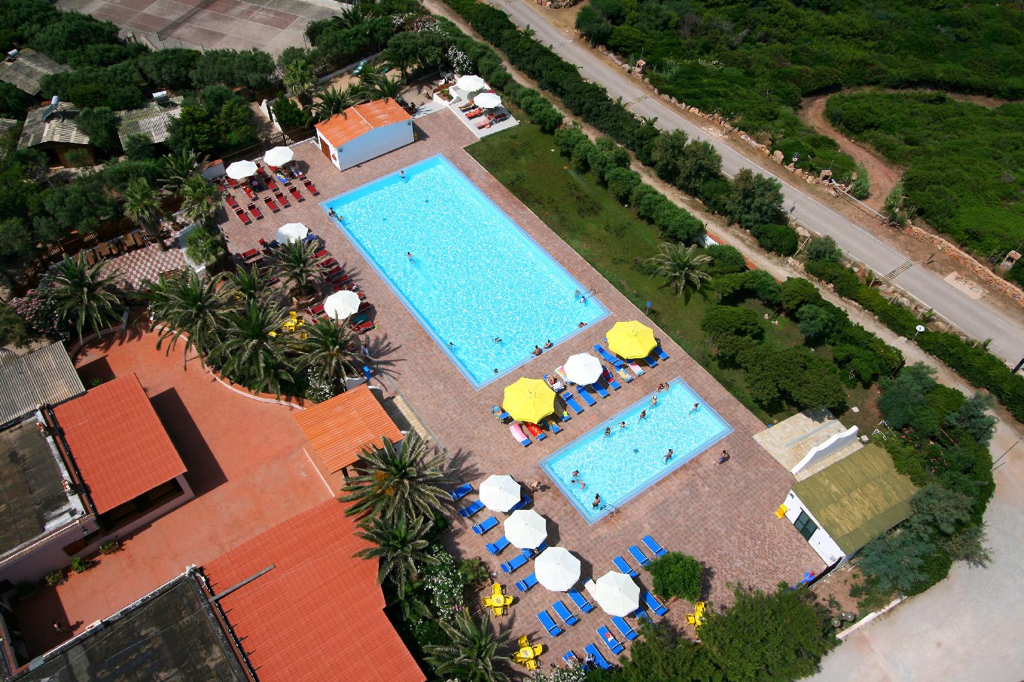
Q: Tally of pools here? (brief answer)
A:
2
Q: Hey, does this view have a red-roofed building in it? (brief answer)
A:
Yes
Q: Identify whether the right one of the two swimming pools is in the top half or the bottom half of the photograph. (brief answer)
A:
bottom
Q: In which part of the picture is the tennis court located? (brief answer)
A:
top left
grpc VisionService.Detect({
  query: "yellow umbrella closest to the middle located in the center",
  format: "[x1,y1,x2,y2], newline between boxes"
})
[503,376,556,420]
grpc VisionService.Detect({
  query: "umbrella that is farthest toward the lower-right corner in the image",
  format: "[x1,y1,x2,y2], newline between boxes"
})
[594,570,642,617]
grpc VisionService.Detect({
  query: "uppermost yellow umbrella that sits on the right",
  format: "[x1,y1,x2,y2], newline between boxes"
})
[609,318,655,356]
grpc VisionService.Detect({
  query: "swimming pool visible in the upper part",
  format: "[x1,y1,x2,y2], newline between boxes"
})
[327,158,602,381]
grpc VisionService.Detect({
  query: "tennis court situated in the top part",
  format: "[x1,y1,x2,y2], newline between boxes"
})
[99,0,297,56]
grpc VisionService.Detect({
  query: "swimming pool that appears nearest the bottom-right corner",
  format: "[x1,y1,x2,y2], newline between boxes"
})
[550,386,722,515]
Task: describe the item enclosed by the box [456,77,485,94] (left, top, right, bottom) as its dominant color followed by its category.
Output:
white umbrella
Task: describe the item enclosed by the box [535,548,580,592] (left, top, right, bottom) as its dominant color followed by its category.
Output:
white umbrella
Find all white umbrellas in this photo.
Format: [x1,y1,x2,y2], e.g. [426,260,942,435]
[474,95,503,121]
[594,570,642,617]
[456,77,485,94]
[326,294,363,325]
[479,473,523,512]
[267,147,298,174]
[228,160,260,186]
[503,508,548,549]
[535,548,580,592]
[566,354,604,385]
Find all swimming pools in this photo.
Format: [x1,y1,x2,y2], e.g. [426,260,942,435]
[550,386,722,515]
[327,158,602,381]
